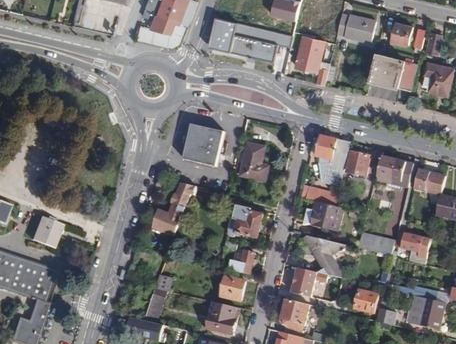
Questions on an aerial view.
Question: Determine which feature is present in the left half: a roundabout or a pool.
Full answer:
The feature located in the left half is a roundabout.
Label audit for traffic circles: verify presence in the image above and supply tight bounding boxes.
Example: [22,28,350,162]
[120,52,184,118]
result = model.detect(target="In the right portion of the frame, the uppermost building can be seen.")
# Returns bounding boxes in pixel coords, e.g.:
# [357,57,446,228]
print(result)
[270,0,298,22]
